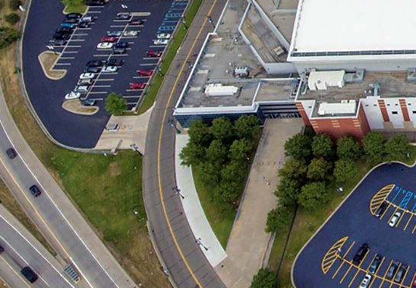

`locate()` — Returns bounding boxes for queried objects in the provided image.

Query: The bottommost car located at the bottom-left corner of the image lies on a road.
[19,266,36,283]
